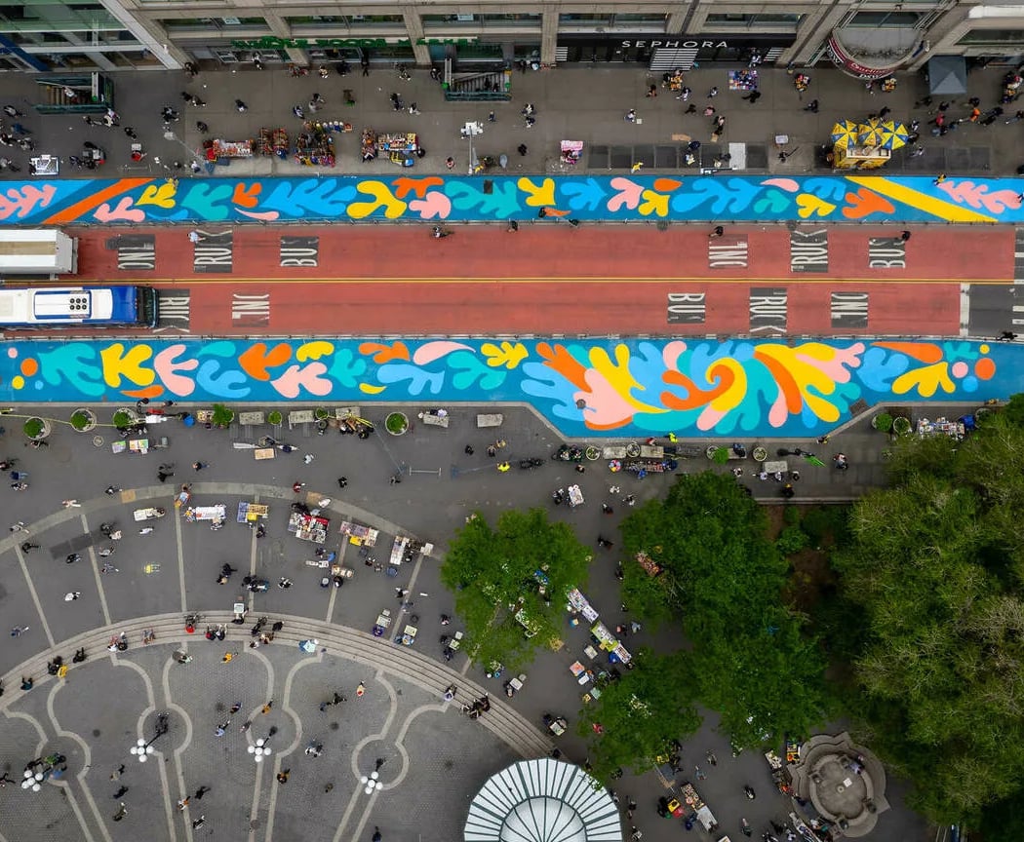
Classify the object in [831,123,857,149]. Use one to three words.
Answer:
umbrella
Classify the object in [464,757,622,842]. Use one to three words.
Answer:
building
